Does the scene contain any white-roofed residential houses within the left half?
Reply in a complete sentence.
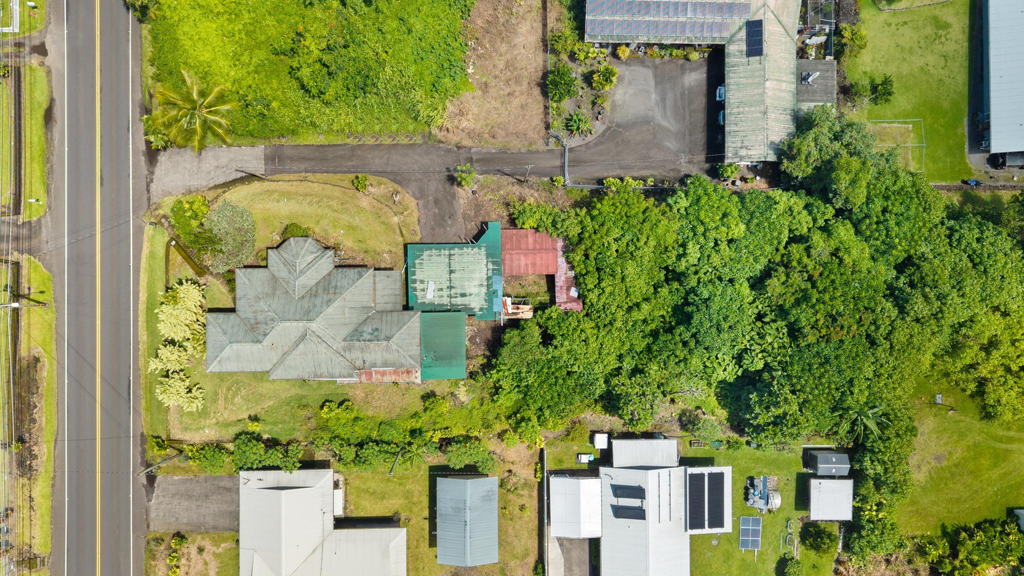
Yes, there is a white-roofed residential house within the left half.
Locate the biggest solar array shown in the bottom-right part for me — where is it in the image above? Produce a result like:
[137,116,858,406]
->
[740,516,762,561]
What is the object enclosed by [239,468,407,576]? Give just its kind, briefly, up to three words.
house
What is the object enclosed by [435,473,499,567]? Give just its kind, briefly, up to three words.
barn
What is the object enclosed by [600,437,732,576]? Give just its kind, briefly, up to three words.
house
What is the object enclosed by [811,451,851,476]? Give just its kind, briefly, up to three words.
shed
